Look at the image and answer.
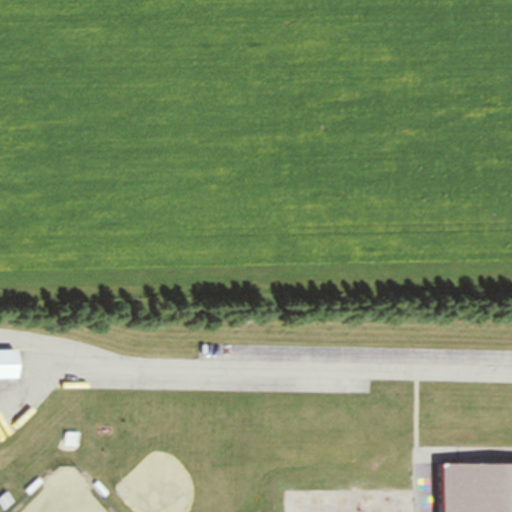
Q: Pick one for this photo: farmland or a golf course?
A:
farmland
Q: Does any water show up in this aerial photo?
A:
No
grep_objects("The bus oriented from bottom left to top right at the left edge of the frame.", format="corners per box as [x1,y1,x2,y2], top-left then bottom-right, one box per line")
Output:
[10,408,37,430]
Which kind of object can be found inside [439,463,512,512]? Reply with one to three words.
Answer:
building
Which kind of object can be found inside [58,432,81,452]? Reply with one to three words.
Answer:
shed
